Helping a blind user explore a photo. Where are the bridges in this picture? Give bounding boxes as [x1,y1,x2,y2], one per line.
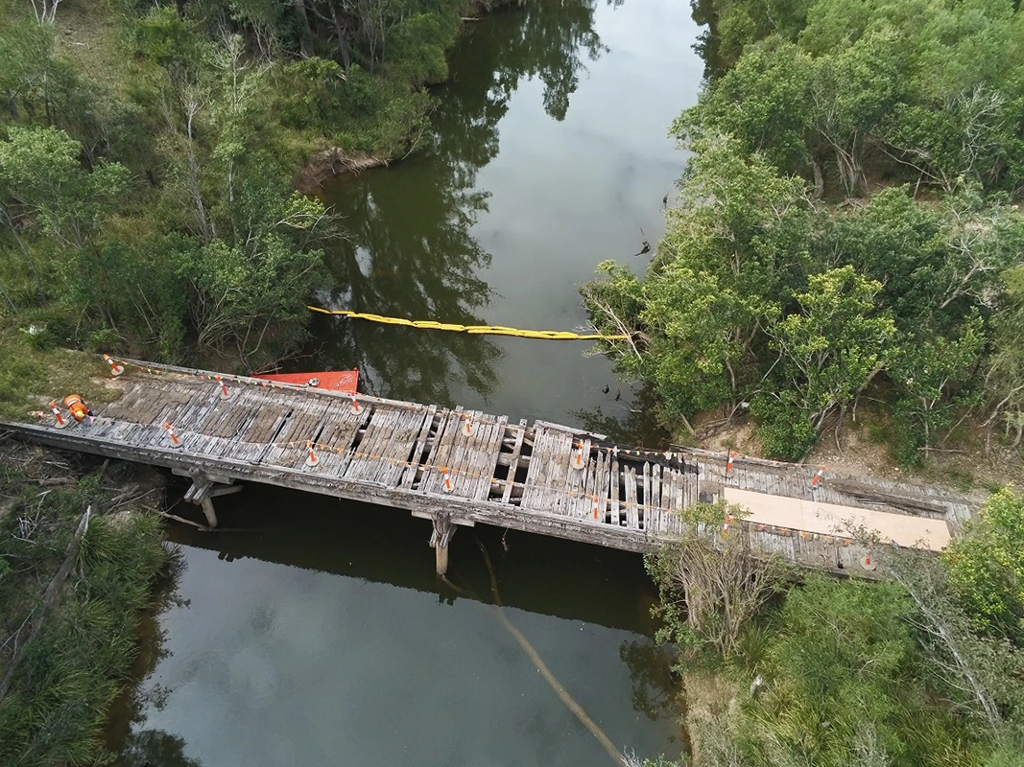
[0,351,992,609]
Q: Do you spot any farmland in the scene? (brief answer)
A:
No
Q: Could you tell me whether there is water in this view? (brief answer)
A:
Yes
